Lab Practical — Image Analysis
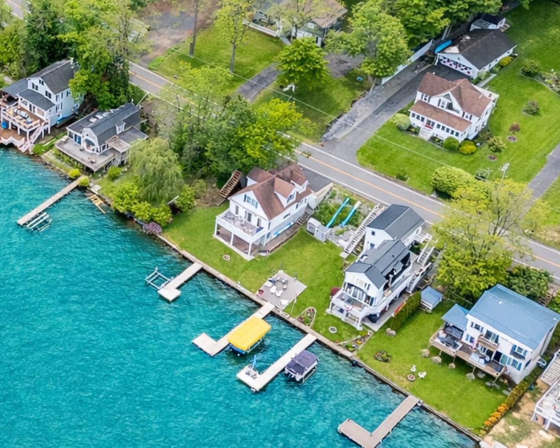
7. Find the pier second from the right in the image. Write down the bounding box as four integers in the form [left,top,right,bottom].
[235,335,317,395]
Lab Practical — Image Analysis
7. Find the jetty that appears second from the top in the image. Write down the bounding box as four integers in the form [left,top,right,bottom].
[157,263,203,305]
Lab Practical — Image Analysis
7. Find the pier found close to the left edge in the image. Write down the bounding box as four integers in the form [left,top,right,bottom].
[17,181,79,229]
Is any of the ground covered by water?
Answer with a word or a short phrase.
Yes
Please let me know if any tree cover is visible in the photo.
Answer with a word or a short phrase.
Yes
